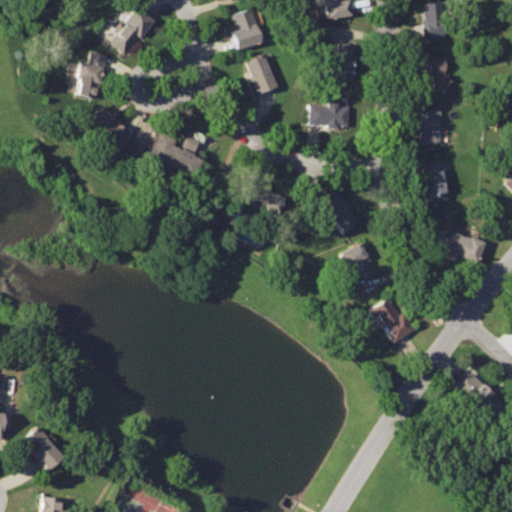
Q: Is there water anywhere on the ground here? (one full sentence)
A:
Yes, there is water in the image.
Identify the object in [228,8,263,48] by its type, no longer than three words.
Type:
house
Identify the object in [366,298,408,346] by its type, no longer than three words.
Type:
house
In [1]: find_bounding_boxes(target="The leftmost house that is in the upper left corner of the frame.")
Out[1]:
[68,52,103,98]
